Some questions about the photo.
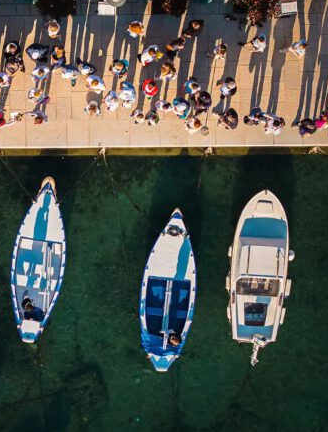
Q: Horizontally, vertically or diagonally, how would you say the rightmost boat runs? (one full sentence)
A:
Seen from above, the rightmost boat lies vertically.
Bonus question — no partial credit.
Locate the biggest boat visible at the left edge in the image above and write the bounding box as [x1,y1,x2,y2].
[9,176,66,343]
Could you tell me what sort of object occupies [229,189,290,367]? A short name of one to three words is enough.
boat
